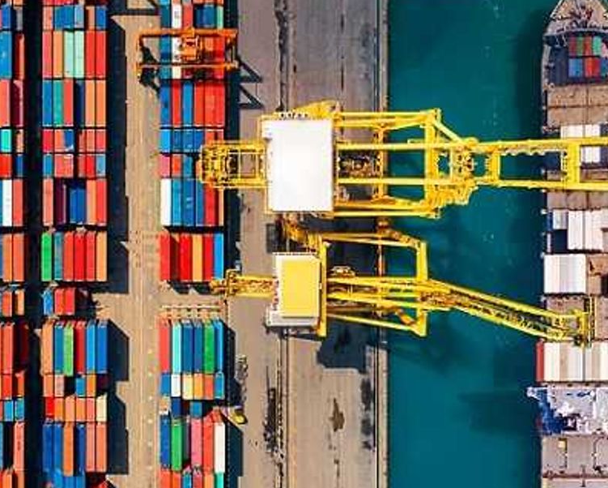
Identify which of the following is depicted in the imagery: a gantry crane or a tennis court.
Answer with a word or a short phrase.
gantry crane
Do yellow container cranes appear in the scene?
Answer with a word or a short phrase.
Yes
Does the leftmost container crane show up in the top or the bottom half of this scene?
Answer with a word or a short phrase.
top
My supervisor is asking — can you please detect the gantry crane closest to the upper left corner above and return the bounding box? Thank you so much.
[133,25,237,88]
